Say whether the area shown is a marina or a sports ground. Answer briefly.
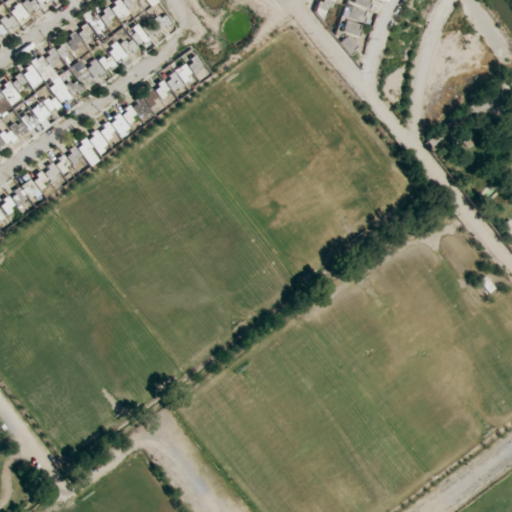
sports ground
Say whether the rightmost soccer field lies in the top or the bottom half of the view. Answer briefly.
bottom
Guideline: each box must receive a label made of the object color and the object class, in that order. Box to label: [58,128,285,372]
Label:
green soccer field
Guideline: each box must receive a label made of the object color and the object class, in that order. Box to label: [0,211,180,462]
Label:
green soccer field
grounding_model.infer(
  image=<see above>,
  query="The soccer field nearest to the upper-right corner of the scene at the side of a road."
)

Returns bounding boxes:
[178,22,408,282]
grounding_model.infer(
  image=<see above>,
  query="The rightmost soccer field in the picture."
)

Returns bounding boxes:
[301,246,512,499]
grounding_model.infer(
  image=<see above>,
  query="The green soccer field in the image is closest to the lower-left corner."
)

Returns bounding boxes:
[82,453,180,512]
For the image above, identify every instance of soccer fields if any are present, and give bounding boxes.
[0,211,180,462]
[58,128,285,372]
[186,318,400,512]
[82,453,180,512]
[178,22,408,282]
[301,246,512,499]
